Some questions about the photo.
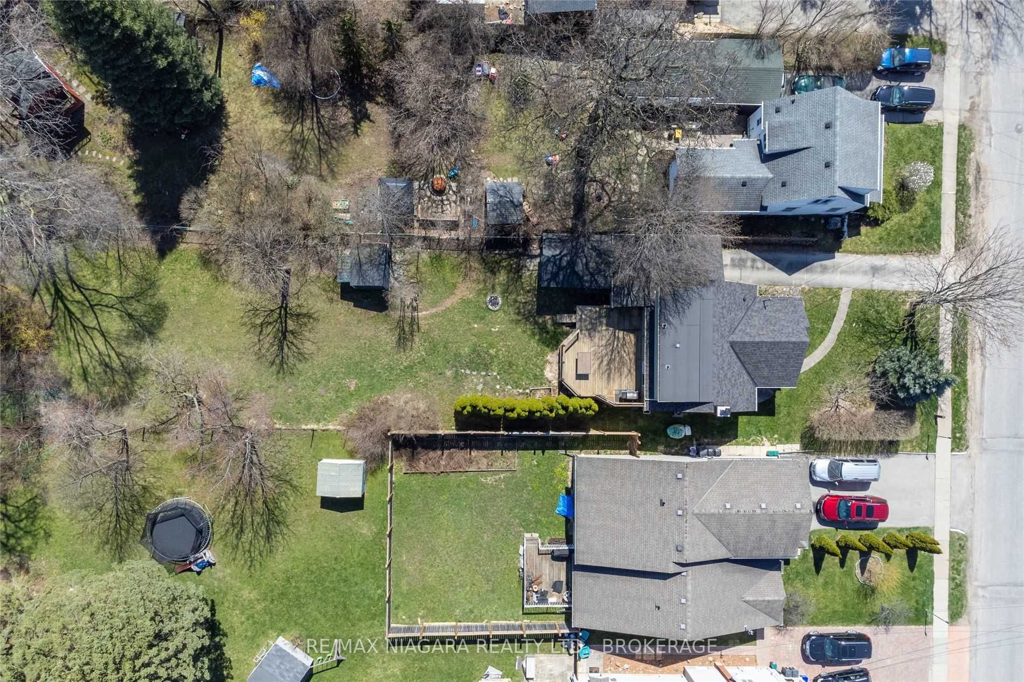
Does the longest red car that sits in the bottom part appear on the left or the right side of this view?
right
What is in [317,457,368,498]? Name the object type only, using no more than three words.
shed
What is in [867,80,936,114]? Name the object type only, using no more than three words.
car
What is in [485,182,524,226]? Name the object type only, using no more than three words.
shed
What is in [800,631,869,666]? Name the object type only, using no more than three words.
car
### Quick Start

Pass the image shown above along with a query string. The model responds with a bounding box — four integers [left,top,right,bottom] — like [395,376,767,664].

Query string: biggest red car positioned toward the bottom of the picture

[814,493,887,526]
